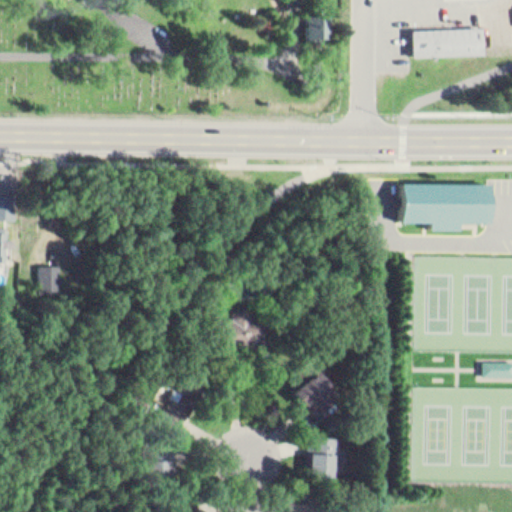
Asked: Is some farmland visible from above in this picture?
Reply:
No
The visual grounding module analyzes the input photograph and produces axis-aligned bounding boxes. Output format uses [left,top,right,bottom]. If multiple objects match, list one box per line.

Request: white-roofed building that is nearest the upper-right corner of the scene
[410,29,486,60]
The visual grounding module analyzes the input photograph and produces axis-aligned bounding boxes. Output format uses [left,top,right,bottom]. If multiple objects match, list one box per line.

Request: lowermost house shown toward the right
[312,454,337,480]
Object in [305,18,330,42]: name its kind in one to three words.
house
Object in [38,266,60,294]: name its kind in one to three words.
house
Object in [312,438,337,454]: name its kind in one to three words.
building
